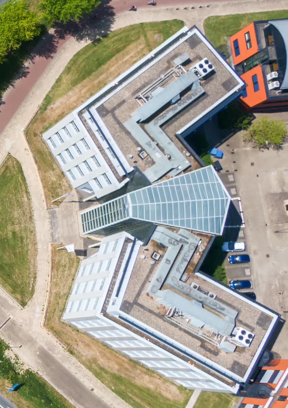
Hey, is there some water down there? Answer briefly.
No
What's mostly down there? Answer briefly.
buildings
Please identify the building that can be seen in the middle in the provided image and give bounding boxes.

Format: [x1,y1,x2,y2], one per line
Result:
[51,24,282,394]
